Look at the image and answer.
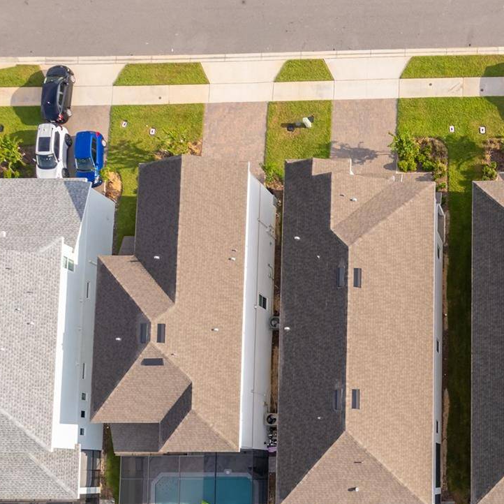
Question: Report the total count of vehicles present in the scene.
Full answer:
The photo contains 3 vehicles.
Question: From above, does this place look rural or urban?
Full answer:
From above, the setting appears urban.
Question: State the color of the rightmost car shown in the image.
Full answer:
In this view, the rightmost car is blue.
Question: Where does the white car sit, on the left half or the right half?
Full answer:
The white car appears in the left half of the scene.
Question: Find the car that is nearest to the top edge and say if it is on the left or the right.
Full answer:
It is on the left.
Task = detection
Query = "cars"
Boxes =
[37,65,74,125]
[31,121,68,177]
[69,128,103,185]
